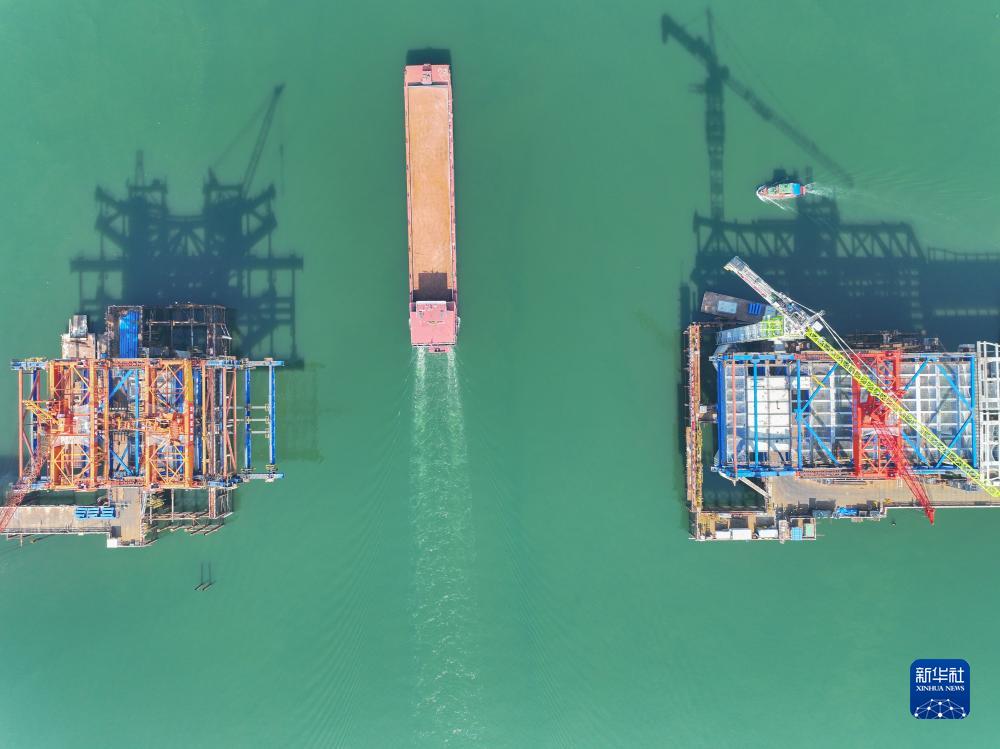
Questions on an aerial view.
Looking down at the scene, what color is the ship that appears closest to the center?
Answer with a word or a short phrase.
pink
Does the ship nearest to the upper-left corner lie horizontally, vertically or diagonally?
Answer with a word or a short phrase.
vertically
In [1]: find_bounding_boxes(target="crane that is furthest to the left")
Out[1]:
[0,437,49,520]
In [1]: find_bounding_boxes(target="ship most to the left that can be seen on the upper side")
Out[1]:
[404,66,461,354]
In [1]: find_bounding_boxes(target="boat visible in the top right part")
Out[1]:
[757,184,806,200]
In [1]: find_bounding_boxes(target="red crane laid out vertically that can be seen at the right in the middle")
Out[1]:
[845,352,934,521]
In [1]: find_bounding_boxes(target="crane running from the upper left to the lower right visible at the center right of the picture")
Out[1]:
[706,253,1000,502]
